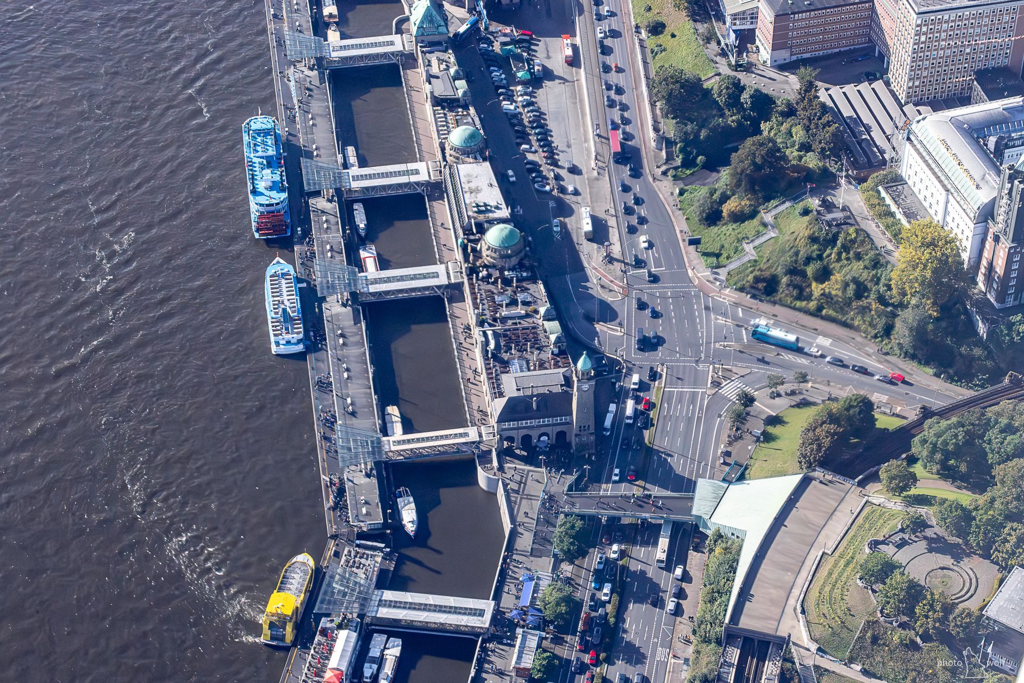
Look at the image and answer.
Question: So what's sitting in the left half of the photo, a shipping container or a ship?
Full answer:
You can see a ship in the left half of the photo.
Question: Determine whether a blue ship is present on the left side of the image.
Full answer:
Yes, a blue ship shows up on the left side of the image.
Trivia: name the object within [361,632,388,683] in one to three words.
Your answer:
boat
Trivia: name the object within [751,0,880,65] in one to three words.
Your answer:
building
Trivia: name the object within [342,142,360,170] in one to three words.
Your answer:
boat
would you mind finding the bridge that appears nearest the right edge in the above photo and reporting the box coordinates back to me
[844,369,1024,492]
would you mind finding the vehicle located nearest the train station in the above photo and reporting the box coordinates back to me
[657,521,674,568]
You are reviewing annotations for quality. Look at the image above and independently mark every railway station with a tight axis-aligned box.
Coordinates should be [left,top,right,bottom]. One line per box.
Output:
[690,466,866,683]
